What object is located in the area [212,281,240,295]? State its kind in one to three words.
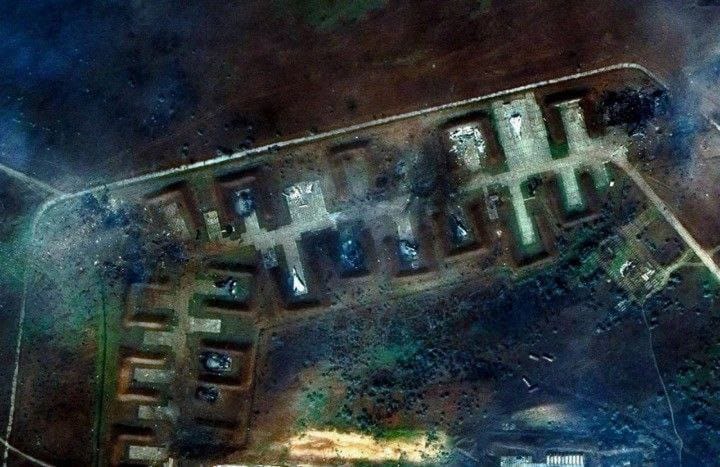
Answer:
airplane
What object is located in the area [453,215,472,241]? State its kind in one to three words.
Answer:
airplane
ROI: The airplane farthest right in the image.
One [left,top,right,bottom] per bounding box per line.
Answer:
[510,114,523,142]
